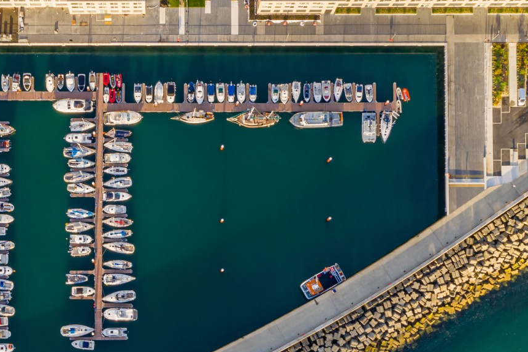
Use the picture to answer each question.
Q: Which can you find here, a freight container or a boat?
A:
boat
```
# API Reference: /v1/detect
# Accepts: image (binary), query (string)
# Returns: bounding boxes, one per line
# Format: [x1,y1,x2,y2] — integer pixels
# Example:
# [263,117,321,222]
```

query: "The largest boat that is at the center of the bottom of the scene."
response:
[296,262,342,298]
